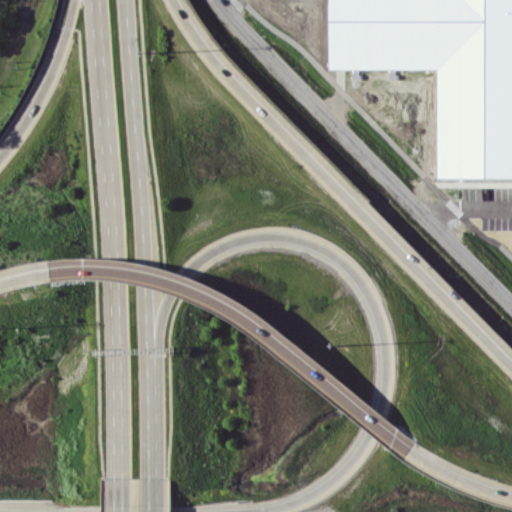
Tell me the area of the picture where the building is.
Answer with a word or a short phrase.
top right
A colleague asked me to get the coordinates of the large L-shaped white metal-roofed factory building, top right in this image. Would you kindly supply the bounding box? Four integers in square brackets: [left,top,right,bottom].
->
[328,0,512,180]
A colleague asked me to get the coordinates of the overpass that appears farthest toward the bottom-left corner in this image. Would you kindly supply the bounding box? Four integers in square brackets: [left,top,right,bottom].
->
[102,478,172,512]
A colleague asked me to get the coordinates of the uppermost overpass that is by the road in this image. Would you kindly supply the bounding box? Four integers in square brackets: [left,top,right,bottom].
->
[48,258,414,461]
